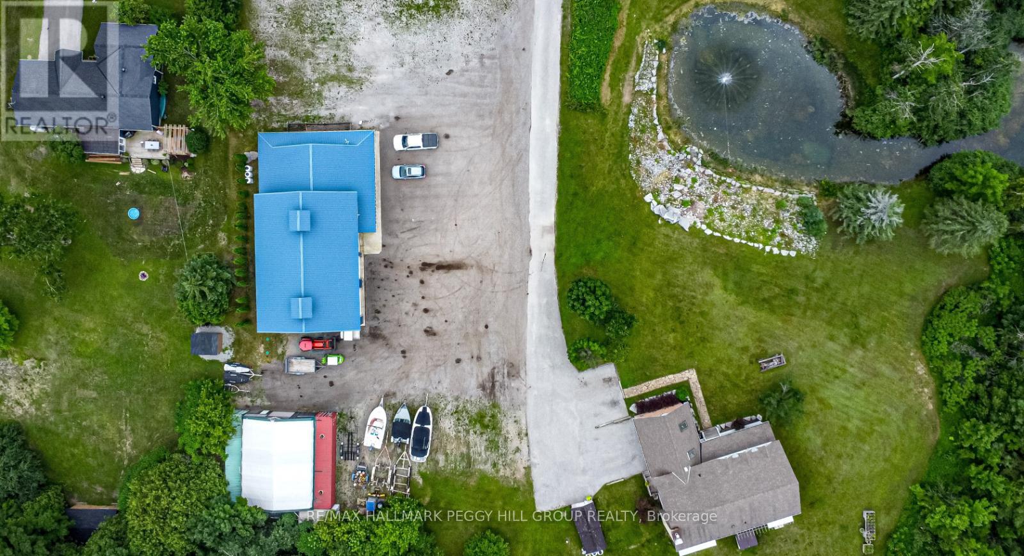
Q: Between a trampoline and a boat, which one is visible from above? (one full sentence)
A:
This aerial view contains a boat.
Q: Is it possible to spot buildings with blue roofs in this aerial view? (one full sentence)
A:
Yes, a building with a blue roof is visible in the scene.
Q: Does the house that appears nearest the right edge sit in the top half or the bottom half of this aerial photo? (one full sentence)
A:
The house that appears nearest the right edge sits in the bottom half of the picture.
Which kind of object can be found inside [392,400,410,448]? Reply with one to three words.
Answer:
boat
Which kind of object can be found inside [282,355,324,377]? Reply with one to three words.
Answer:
trailer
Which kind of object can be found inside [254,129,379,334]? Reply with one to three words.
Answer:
building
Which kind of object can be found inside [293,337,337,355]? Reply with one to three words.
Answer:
work vehicle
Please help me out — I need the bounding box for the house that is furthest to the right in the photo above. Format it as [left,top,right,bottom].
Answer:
[633,400,802,556]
